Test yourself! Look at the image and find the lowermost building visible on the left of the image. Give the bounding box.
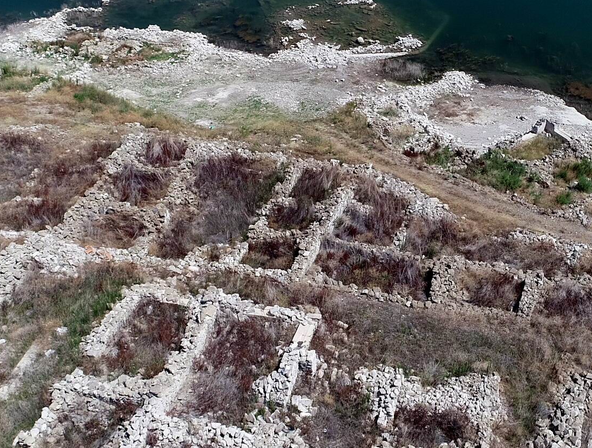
[10,284,328,448]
